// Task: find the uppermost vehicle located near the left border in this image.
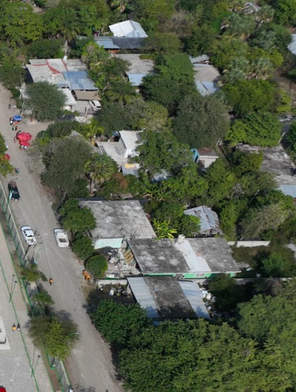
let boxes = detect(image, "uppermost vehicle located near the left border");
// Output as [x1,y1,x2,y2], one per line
[6,179,22,198]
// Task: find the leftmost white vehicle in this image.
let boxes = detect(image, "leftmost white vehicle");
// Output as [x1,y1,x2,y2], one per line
[21,226,38,243]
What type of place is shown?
residential area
